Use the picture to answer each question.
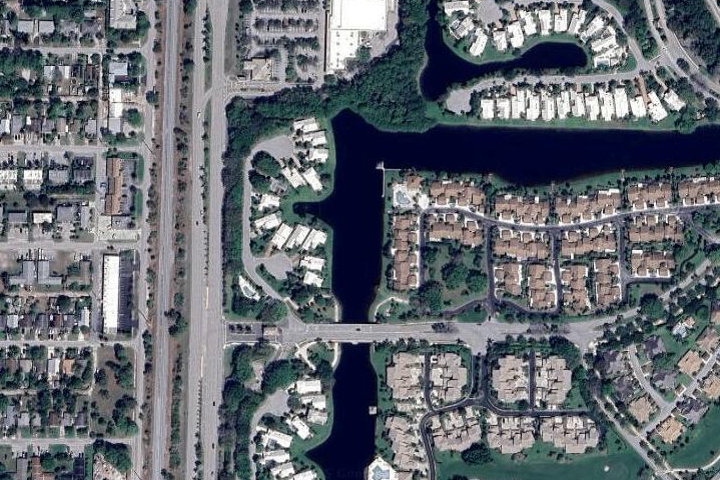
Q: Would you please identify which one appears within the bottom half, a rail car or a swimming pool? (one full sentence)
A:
Looking within the bottom half, you will find a swimming pool.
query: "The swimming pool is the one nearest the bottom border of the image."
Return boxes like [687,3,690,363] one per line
[368,457,398,480]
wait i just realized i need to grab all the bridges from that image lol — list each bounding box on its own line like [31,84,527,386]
[336,322,375,343]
